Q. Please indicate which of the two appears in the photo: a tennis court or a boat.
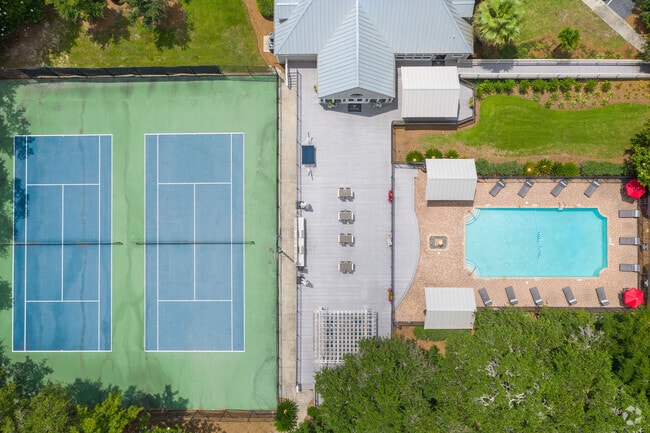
tennis court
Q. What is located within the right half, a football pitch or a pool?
pool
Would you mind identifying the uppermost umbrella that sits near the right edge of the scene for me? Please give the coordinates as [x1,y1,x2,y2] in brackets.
[620,180,645,200]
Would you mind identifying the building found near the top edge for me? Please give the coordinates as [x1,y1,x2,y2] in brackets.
[273,0,477,104]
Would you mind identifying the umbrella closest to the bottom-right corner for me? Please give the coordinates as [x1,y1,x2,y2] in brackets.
[618,287,642,309]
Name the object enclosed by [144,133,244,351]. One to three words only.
tennis court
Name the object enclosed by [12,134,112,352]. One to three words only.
tennis court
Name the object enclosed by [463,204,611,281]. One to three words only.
swimming pool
